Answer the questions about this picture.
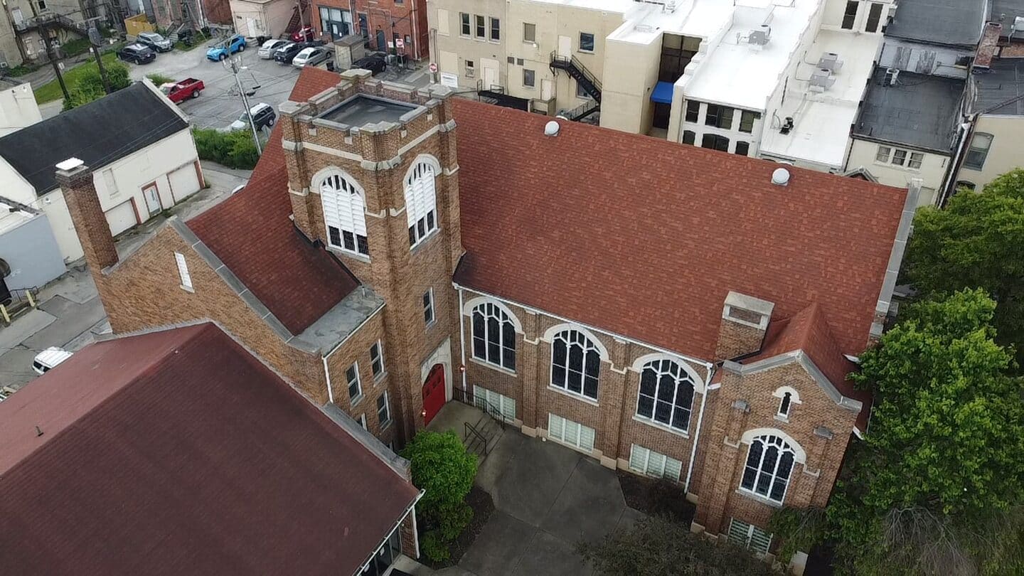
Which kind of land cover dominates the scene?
buildings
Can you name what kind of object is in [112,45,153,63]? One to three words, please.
car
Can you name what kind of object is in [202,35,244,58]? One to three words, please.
car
